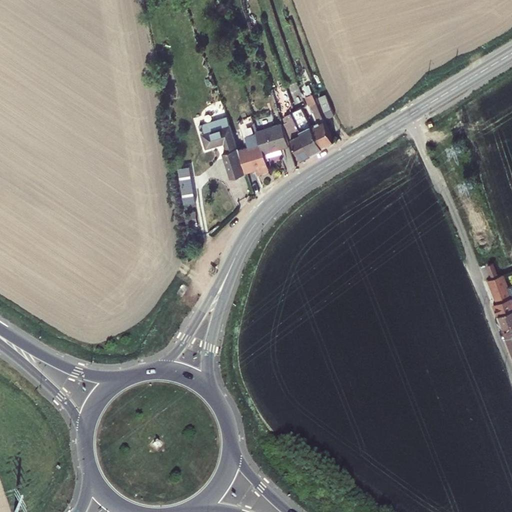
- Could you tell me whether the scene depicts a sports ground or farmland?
farmland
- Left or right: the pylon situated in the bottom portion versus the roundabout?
to its left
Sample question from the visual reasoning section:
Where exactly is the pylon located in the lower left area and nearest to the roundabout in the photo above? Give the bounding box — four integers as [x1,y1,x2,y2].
[10,486,32,512]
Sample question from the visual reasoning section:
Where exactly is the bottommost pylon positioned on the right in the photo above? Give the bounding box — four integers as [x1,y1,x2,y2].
[458,182,474,202]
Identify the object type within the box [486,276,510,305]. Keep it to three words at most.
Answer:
house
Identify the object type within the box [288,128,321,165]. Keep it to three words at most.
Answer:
house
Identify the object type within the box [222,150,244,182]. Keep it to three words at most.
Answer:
barn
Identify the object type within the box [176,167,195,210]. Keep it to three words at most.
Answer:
shed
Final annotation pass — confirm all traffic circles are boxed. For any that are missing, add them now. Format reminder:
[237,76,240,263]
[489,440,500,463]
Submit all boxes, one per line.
[76,362,239,512]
